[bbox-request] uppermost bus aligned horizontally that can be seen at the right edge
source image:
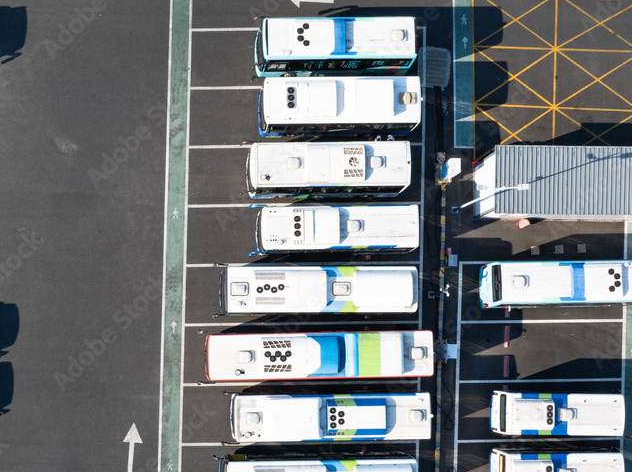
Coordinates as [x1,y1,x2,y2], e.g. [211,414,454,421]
[483,262,632,304]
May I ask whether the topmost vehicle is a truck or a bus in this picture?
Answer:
bus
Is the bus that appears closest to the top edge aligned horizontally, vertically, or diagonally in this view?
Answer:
horizontally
